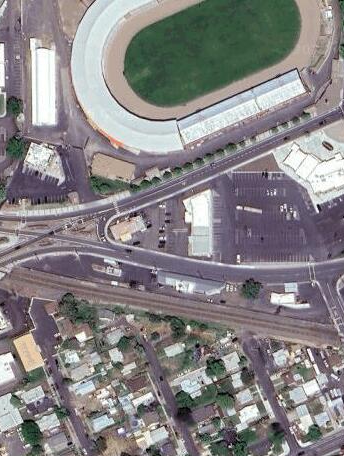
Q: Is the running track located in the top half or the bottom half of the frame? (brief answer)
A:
top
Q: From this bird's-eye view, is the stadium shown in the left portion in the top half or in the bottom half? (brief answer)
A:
top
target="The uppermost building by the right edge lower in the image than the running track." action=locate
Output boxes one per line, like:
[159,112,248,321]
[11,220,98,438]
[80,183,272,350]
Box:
[283,143,344,194]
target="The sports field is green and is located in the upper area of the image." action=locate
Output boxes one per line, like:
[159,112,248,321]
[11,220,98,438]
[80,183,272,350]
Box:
[127,0,298,104]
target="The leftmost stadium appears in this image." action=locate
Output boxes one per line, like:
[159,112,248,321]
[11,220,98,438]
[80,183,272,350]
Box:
[71,0,183,160]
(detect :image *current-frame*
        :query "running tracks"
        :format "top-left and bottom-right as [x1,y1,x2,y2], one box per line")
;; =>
[106,0,317,123]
